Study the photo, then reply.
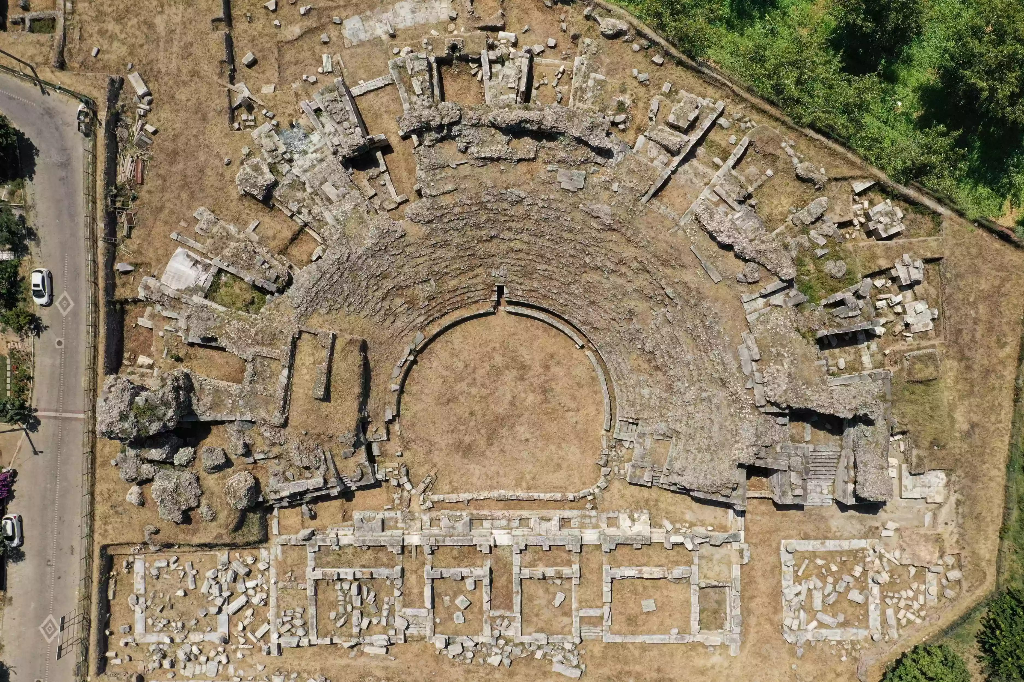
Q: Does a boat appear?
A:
No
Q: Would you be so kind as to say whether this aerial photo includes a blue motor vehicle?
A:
No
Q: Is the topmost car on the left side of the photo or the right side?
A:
left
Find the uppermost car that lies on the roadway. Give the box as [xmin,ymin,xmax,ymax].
[31,268,56,307]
